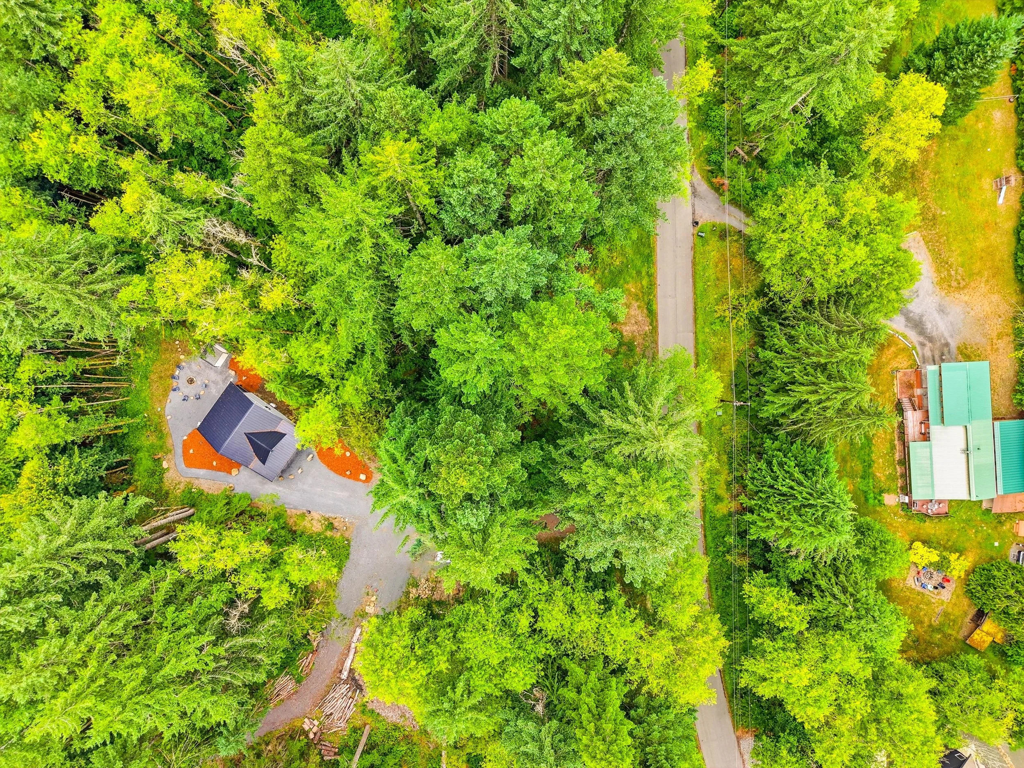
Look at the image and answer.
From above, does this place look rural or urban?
rural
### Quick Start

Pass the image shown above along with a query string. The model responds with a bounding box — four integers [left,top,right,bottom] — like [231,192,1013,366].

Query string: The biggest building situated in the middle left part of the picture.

[196,375,306,482]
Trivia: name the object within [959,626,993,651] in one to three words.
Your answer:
shed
